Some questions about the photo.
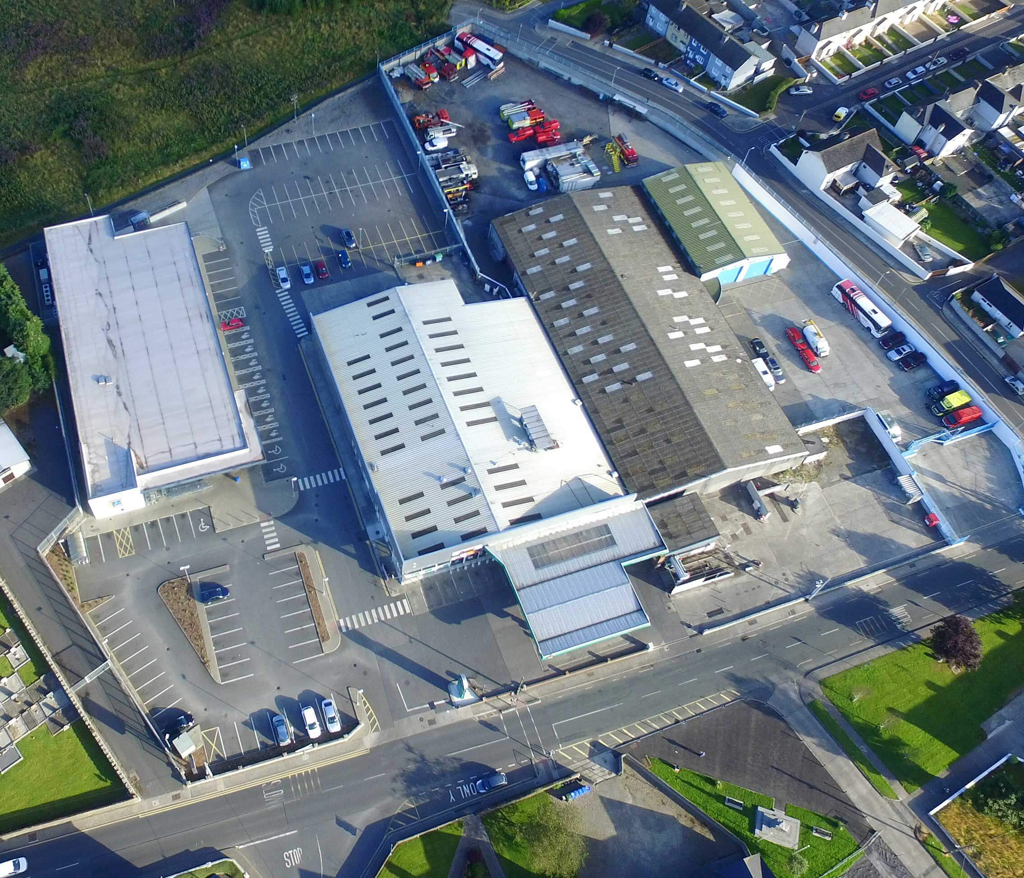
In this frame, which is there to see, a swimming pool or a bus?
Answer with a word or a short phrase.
bus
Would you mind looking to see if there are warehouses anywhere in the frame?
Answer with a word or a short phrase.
Yes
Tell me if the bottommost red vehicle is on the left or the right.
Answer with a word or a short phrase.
right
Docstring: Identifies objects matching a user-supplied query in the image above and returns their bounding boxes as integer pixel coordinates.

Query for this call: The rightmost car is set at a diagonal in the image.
[1003,376,1024,397]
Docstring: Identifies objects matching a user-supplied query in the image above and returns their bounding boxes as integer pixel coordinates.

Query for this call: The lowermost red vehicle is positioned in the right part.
[947,405,982,428]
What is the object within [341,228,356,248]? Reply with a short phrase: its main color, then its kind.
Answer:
blue car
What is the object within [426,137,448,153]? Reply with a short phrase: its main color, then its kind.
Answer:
white vehicle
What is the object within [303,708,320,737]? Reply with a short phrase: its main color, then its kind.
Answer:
white car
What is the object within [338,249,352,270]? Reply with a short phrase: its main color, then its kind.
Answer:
blue car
